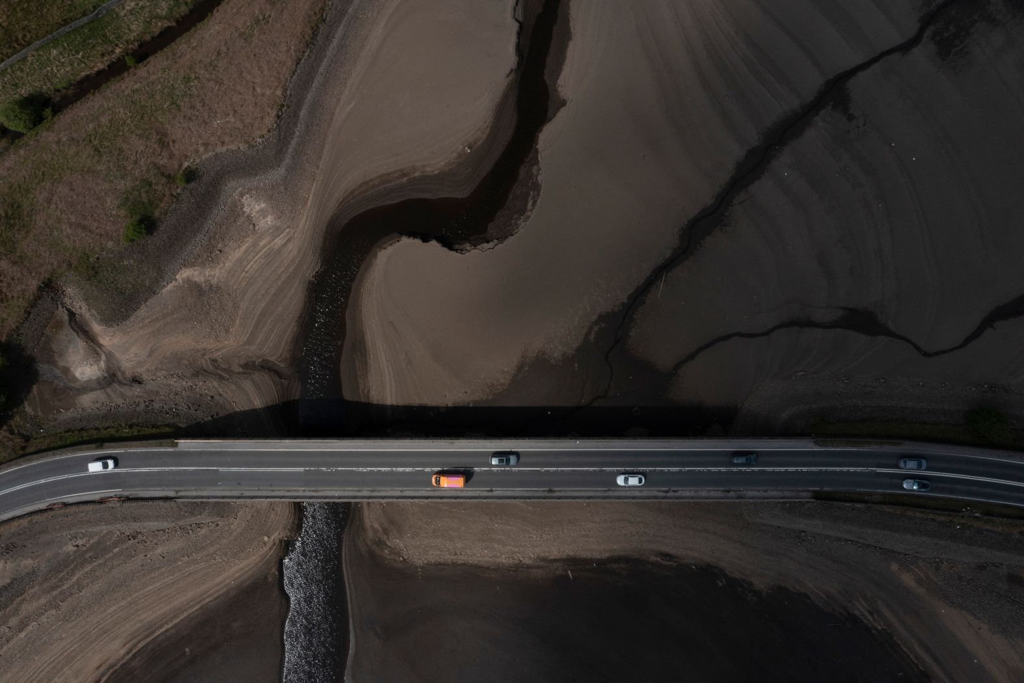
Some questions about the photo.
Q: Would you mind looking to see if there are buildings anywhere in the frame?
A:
No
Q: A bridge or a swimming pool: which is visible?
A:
bridge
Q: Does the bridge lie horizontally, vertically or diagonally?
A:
horizontally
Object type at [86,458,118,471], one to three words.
vehicle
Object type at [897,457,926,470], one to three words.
vehicle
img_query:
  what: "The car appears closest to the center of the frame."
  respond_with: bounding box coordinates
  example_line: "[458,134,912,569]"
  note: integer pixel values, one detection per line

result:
[490,453,518,466]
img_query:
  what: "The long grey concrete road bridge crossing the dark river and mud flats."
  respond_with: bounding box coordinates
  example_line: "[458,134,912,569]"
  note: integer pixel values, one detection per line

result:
[168,434,814,503]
